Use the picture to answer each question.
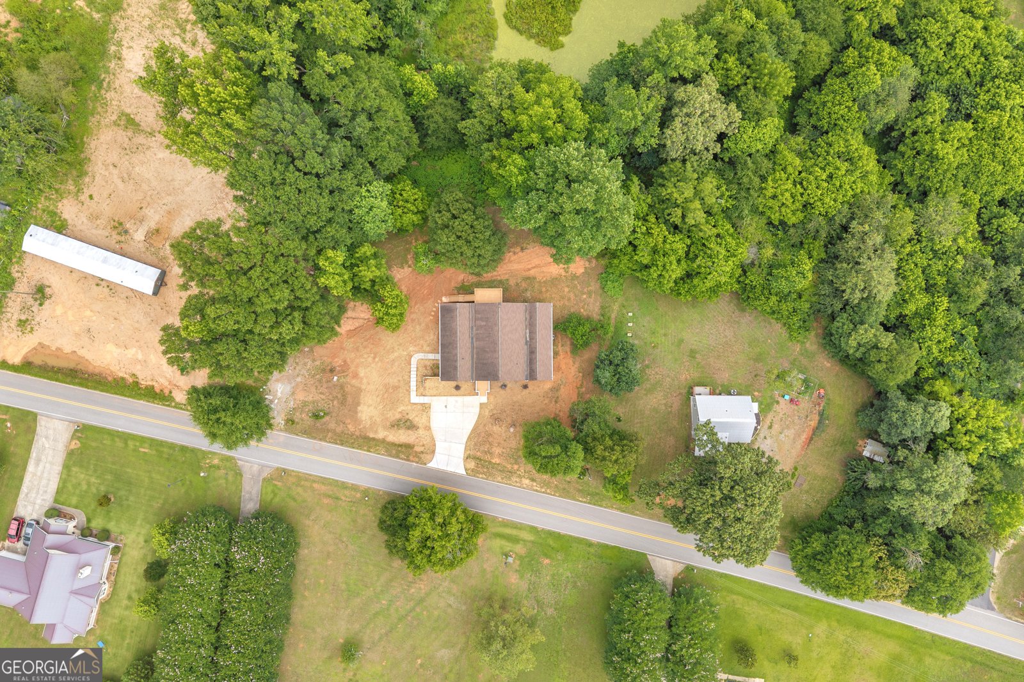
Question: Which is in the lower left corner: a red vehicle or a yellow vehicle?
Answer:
red vehicle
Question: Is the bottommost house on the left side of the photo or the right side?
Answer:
left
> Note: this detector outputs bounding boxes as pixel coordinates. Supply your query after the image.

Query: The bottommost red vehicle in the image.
[8,516,26,544]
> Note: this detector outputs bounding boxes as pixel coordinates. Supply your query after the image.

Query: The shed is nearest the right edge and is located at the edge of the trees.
[857,437,888,463]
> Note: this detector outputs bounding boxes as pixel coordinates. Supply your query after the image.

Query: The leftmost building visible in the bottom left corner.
[0,516,115,644]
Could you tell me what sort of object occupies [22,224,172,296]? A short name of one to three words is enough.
house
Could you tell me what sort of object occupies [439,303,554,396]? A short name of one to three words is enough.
house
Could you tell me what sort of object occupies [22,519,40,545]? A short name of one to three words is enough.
car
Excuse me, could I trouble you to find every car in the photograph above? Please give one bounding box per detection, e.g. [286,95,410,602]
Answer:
[8,516,26,544]
[22,519,40,545]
